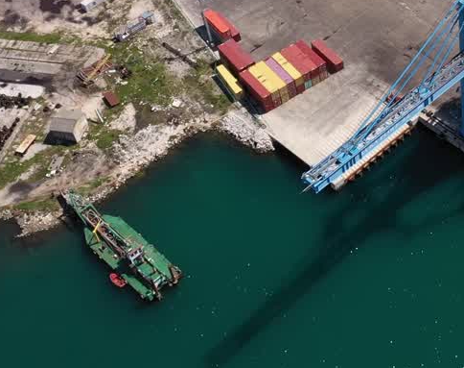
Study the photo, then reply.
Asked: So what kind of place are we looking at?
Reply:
port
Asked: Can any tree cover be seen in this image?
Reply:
No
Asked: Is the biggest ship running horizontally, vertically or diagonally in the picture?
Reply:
diagonally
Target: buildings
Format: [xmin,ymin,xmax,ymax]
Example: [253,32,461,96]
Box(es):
[43,107,79,141]
[80,0,108,17]
[104,90,120,111]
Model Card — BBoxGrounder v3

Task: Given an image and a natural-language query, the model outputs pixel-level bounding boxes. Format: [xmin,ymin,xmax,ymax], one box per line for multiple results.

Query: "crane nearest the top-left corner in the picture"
[72,49,109,83]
